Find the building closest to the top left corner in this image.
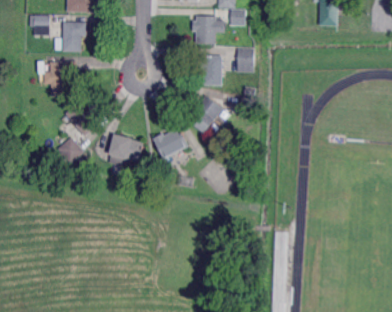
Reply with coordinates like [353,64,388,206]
[29,16,48,35]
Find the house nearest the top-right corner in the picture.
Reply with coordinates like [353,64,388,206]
[318,0,338,26]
